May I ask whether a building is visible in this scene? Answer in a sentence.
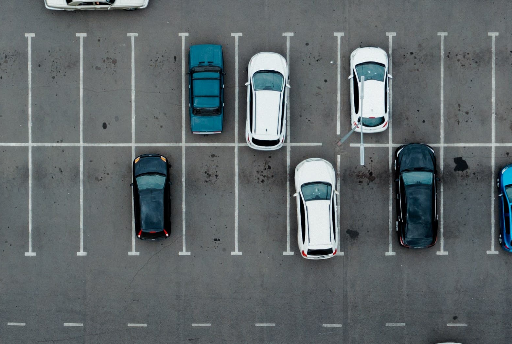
No, there isn't any building down there.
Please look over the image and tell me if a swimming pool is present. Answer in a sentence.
No, I can see no swimming pool in this picture.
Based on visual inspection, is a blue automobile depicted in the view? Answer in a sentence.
Yes, I can see a blue automobile in this picture.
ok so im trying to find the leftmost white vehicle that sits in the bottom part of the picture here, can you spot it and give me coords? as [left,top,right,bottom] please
[291,158,342,260]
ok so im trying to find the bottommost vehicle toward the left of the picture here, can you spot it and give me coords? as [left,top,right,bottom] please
[127,153,175,241]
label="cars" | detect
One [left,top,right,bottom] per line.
[346,46,396,134]
[127,153,175,241]
[43,0,150,14]
[392,143,445,248]
[496,164,512,252]
[243,51,294,151]
[291,158,342,260]
[184,43,228,134]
